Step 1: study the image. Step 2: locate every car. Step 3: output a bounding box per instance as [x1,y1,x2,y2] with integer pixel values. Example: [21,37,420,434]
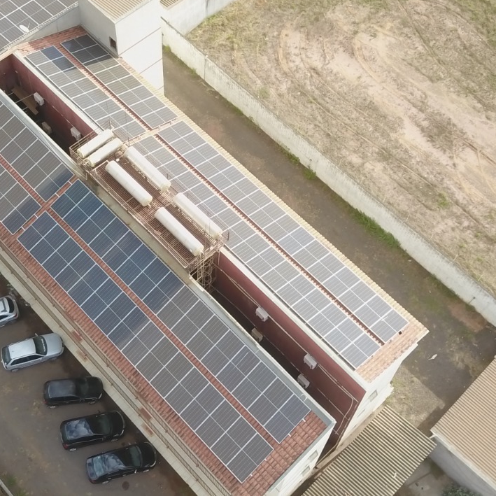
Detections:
[40,371,106,410]
[0,331,63,370]
[57,409,127,450]
[82,442,157,487]
[0,295,21,328]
